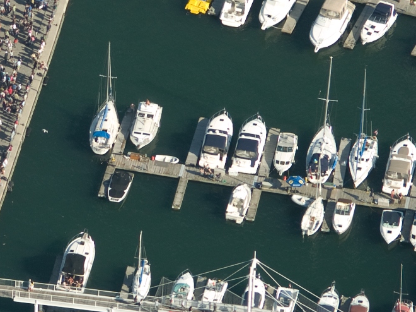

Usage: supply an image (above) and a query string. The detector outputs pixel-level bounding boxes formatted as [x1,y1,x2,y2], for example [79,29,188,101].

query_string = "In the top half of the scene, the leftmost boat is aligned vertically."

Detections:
[90,44,120,158]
